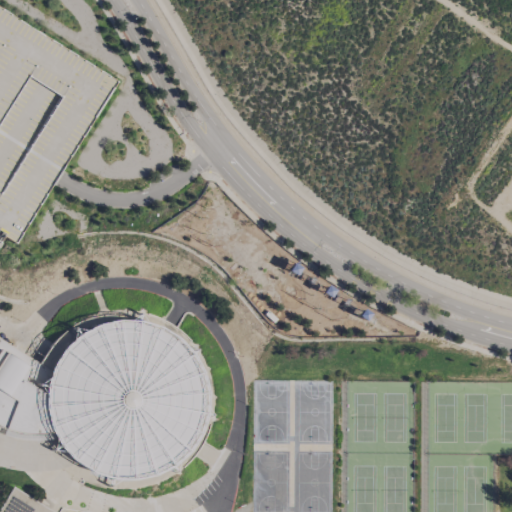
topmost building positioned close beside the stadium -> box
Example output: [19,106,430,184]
[0,6,120,244]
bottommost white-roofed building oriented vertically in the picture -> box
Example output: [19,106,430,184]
[0,338,48,434]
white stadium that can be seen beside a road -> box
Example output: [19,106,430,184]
[26,310,218,482]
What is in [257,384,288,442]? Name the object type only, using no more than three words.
basketball court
